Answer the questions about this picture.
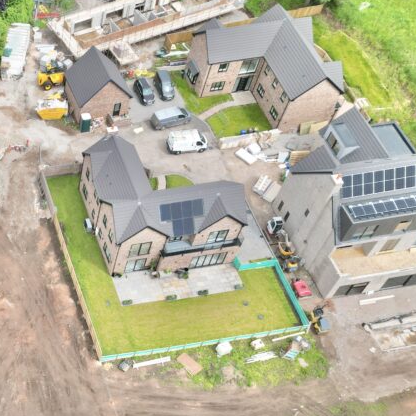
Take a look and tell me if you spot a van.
Yes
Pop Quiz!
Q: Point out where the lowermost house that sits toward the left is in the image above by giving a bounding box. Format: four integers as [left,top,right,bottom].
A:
[80,142,252,275]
